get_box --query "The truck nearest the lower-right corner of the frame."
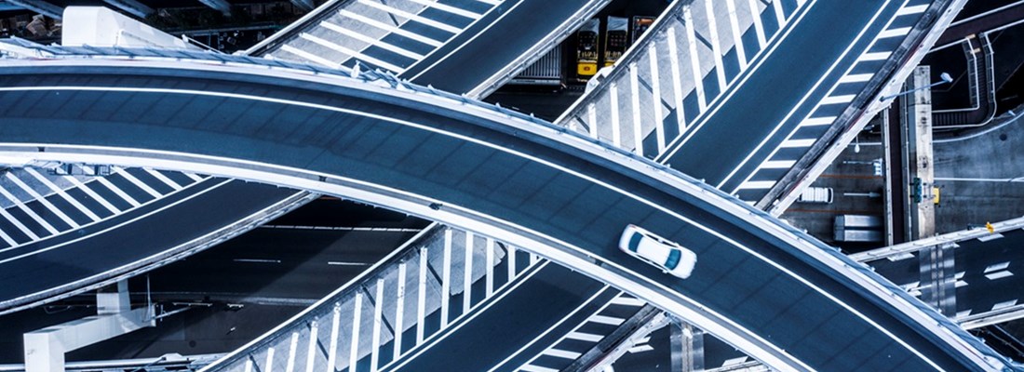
[830,216,886,242]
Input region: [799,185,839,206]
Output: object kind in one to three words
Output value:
vehicle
